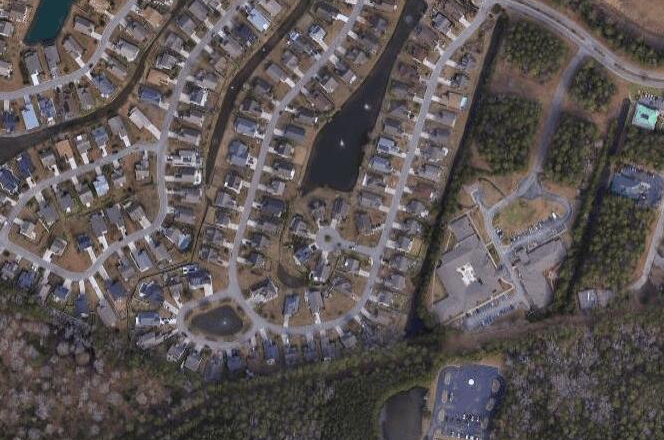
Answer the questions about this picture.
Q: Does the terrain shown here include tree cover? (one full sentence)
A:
Yes, there's tree cover in this view.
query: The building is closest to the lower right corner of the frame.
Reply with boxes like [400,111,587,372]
[512,236,566,308]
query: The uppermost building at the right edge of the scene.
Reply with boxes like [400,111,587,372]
[632,101,659,131]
